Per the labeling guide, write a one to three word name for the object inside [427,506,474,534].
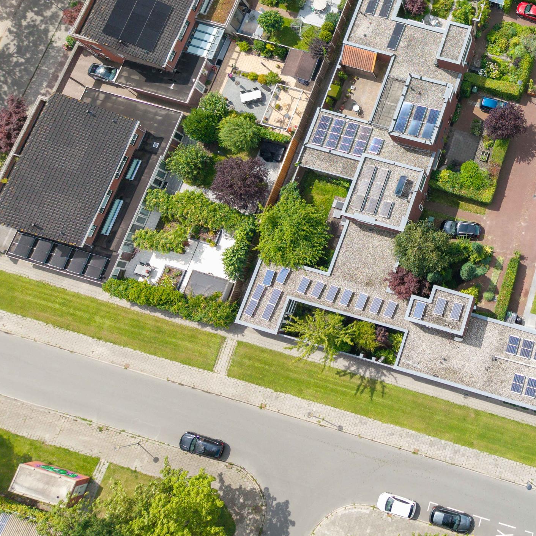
car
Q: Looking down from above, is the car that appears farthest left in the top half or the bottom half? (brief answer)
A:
top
